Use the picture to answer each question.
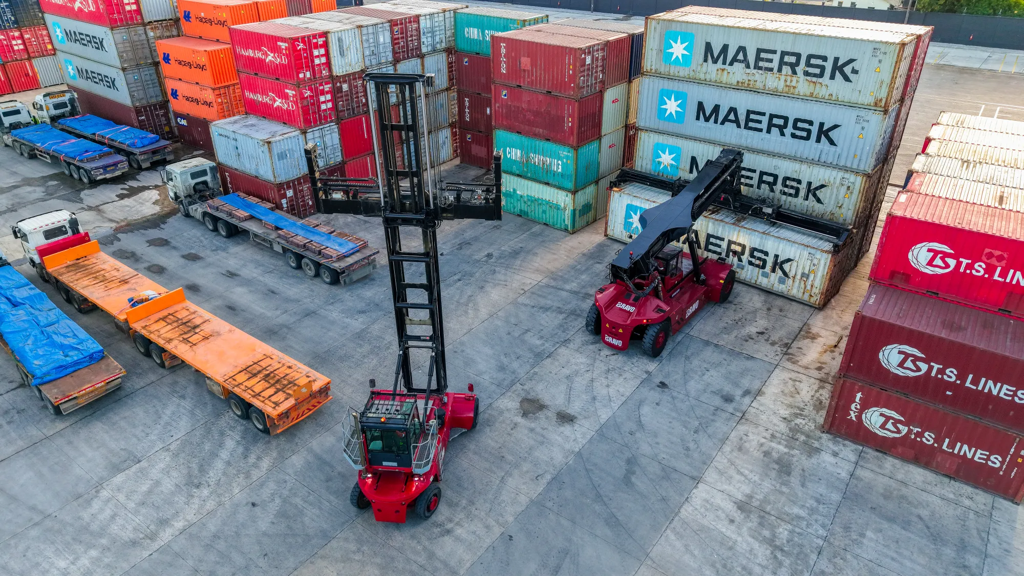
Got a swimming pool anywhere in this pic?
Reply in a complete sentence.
No, the picture doesn't show any swimming pool.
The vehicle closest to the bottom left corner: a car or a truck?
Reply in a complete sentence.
Specifically, the vehicle closest to the bottom left corner is a truck.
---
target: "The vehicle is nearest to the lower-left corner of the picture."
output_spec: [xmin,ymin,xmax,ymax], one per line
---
[8,364,131,421]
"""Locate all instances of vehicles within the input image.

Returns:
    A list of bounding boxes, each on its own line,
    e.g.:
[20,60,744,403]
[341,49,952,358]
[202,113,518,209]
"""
[6,207,332,441]
[8,364,131,421]
[582,148,861,360]
[157,160,382,286]
[0,97,133,184]
[307,72,508,524]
